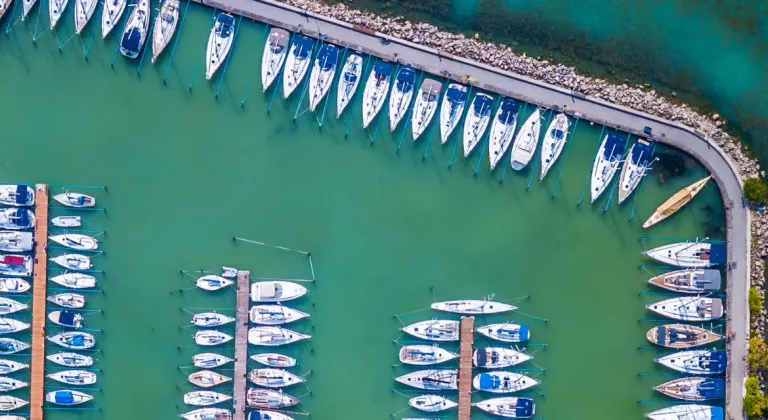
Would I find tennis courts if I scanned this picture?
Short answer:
No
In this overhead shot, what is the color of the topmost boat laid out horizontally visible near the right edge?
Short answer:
white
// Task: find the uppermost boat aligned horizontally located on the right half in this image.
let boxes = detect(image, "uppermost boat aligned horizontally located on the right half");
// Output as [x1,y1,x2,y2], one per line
[641,238,733,269]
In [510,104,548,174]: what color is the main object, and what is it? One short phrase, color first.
white boat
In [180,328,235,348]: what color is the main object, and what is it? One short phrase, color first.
white boat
